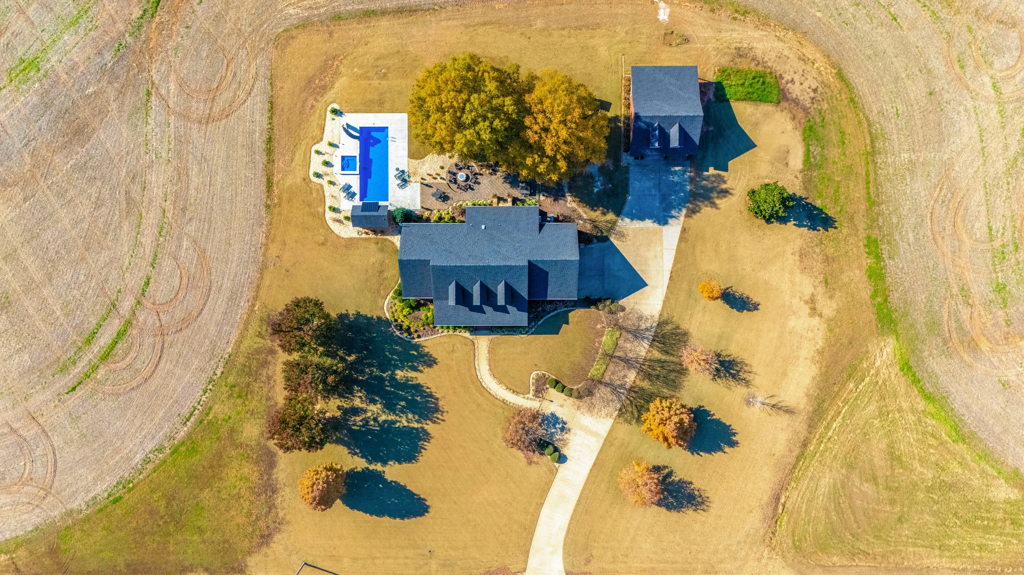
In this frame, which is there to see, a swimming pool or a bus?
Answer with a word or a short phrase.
swimming pool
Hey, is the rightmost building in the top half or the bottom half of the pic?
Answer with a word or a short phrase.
top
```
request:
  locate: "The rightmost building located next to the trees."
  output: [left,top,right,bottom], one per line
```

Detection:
[629,65,703,158]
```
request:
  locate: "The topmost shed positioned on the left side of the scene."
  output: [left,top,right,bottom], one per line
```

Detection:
[350,205,390,227]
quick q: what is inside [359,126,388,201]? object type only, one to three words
swimming pool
